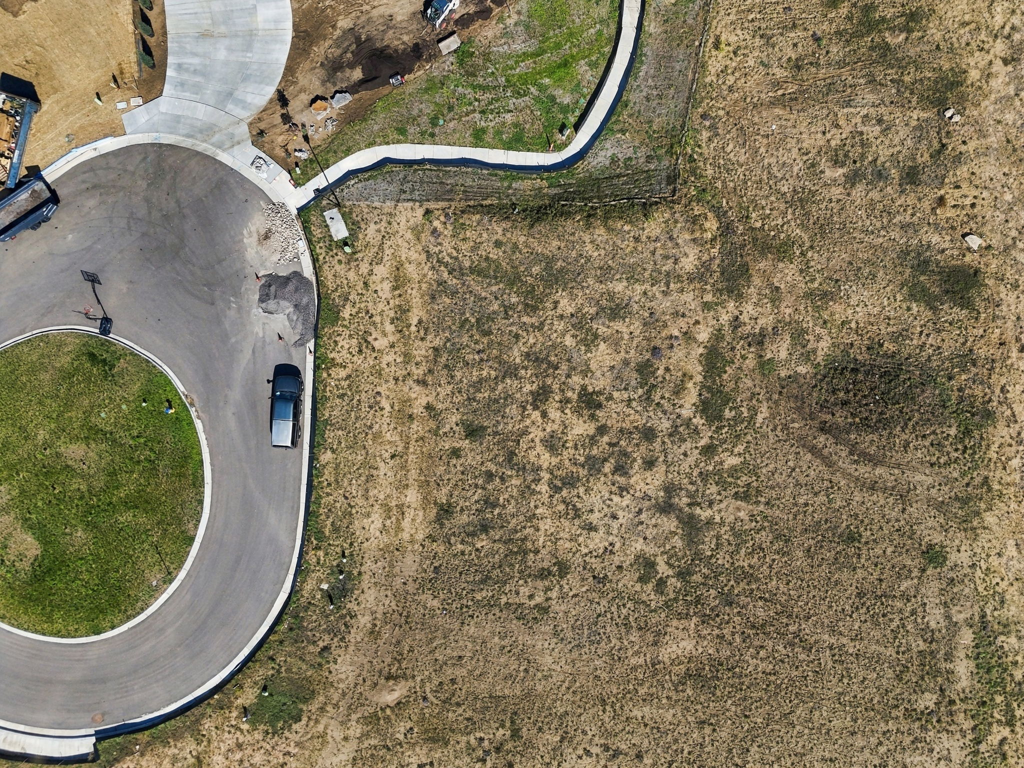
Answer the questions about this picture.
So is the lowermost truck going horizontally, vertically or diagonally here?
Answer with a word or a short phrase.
vertically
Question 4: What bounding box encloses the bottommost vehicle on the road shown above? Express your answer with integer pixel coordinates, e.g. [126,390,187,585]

[271,376,303,449]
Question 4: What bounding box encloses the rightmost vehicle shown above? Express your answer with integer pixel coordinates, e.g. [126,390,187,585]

[421,0,459,38]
